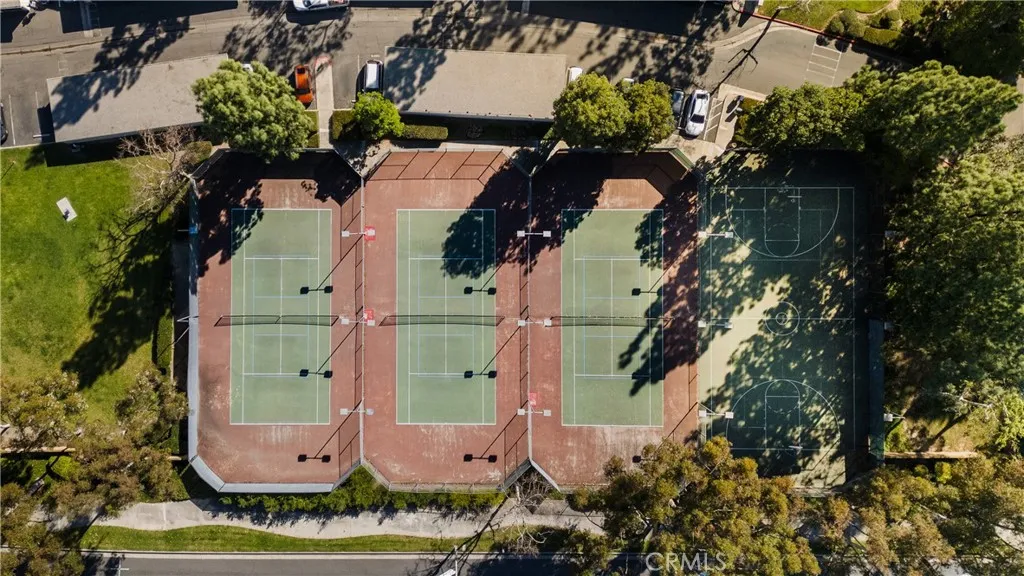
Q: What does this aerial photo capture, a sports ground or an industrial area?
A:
sports ground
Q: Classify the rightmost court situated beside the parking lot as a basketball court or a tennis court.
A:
basketball court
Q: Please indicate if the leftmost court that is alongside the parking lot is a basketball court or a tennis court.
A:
tennis court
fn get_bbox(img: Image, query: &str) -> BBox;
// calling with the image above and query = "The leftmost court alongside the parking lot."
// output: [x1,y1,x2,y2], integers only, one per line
[198,154,367,485]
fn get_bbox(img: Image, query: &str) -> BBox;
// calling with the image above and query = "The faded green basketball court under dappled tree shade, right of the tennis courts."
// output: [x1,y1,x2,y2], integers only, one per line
[697,153,870,487]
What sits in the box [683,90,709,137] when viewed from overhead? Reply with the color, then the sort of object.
white car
